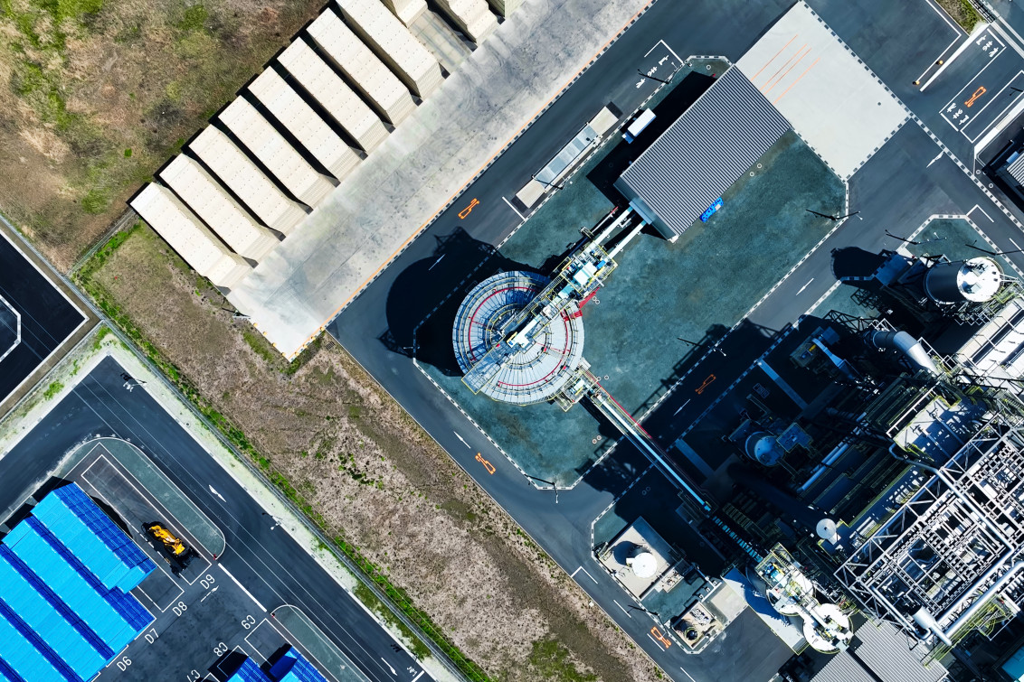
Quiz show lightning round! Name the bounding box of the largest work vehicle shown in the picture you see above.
[145,518,201,564]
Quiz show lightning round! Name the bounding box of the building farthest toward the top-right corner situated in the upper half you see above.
[991,146,1024,205]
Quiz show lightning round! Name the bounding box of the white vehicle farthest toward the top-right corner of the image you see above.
[619,107,656,146]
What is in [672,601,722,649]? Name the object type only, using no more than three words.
storage tank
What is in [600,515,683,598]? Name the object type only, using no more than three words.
storage tank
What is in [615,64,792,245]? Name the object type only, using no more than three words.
warehouse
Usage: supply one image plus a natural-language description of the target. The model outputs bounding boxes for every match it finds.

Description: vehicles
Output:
[619,107,656,146]
[145,518,201,564]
